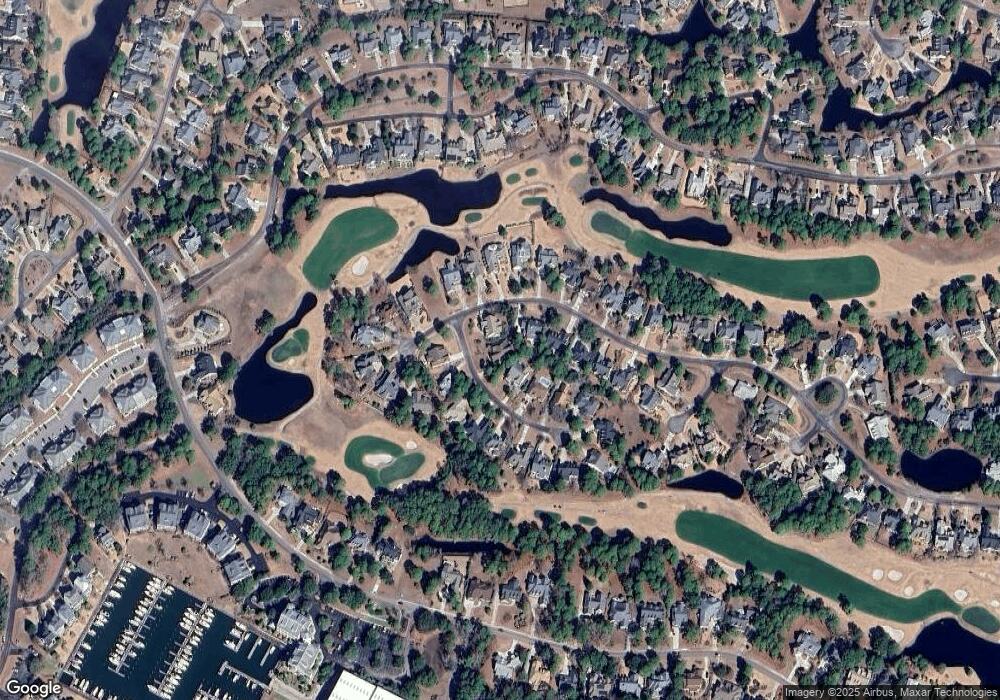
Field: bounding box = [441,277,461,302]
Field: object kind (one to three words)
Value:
house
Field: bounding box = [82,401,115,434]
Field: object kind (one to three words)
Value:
building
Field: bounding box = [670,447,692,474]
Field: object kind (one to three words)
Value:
house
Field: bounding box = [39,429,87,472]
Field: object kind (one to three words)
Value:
building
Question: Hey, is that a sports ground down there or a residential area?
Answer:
residential area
